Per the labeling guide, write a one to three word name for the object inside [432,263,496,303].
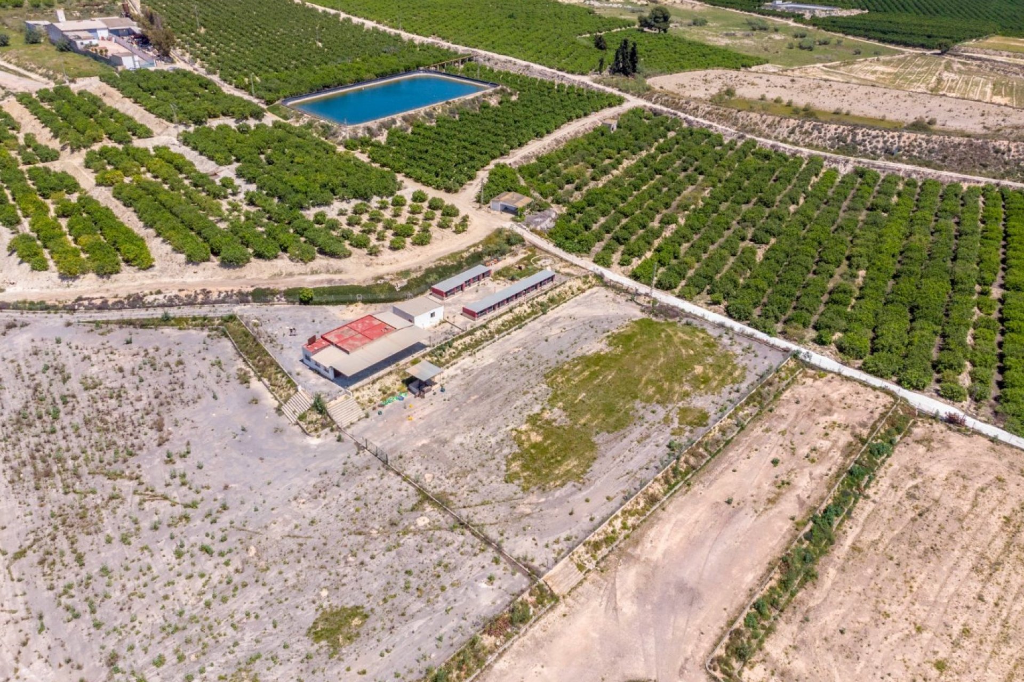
shed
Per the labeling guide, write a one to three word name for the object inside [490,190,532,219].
building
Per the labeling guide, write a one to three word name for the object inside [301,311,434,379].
building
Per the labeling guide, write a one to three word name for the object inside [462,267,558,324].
shed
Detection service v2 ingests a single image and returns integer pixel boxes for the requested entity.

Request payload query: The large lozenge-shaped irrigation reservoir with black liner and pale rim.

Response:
[283,69,497,126]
